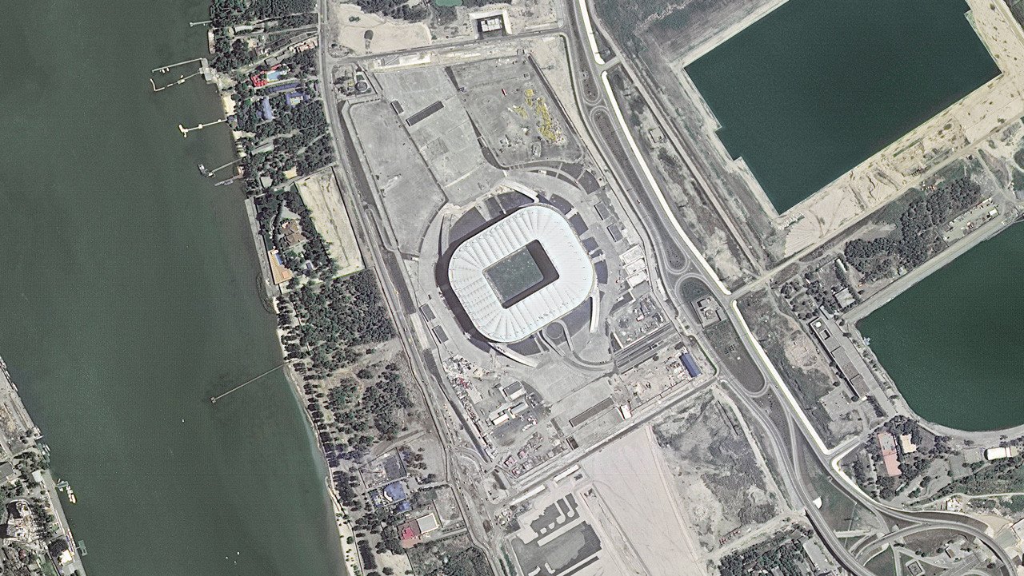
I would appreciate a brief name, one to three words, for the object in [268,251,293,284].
house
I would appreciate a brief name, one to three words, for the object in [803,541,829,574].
building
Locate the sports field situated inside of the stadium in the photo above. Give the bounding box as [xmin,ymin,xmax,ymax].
[487,243,556,305]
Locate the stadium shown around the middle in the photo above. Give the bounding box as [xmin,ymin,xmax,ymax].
[445,203,597,345]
